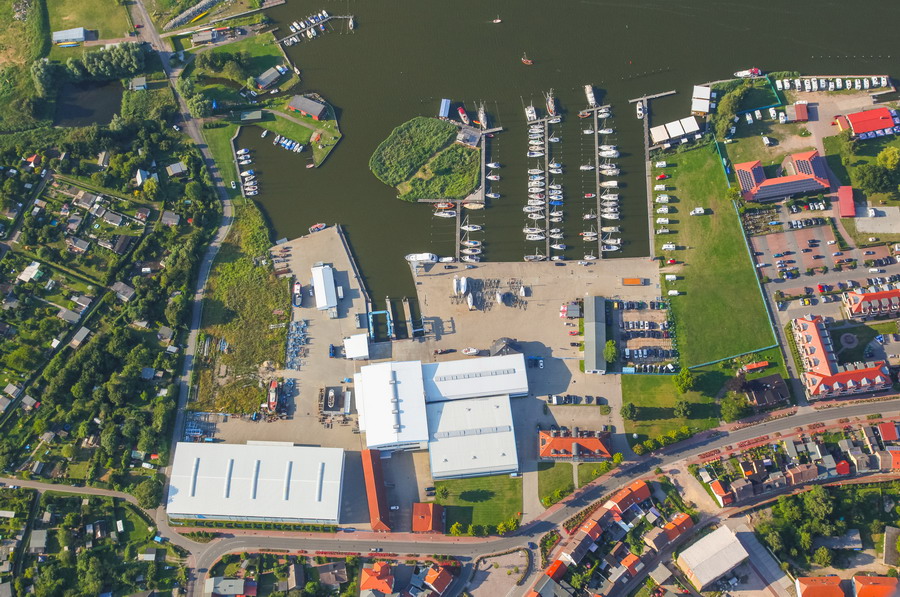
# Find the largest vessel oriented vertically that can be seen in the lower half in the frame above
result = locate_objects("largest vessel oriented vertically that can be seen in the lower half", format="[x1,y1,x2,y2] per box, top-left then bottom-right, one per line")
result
[265,375,281,413]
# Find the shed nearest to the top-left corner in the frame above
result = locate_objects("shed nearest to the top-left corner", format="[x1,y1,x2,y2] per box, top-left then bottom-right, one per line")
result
[53,26,84,43]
